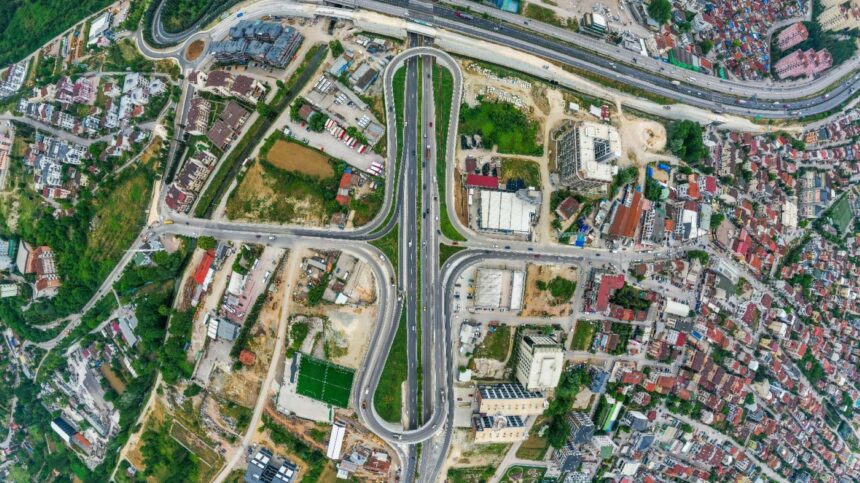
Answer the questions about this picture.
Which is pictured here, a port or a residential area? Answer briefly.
residential area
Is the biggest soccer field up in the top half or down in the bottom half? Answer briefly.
bottom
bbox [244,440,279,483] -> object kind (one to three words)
building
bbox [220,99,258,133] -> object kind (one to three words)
house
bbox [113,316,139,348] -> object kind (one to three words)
shed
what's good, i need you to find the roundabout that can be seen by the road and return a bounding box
[178,31,211,68]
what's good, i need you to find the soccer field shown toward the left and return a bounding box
[276,352,357,423]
